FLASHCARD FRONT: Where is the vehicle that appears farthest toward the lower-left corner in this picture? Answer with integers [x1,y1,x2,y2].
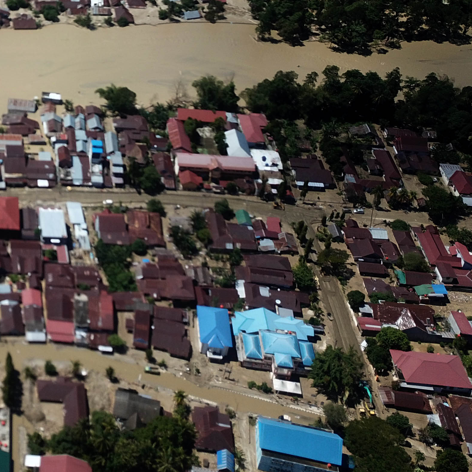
[143,362,163,375]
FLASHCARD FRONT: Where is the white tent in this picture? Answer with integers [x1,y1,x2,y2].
[270,380,303,399]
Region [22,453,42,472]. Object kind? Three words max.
building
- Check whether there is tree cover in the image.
Yes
